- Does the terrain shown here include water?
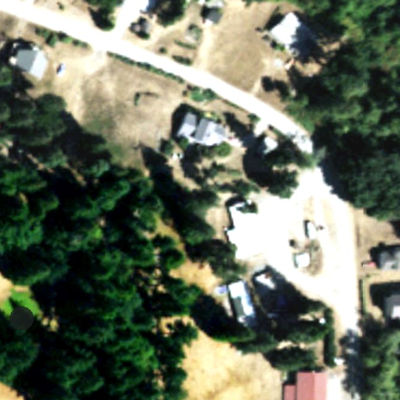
No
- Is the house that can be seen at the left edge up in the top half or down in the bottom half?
top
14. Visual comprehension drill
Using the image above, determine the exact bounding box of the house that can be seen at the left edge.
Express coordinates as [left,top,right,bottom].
[15,46,47,77]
